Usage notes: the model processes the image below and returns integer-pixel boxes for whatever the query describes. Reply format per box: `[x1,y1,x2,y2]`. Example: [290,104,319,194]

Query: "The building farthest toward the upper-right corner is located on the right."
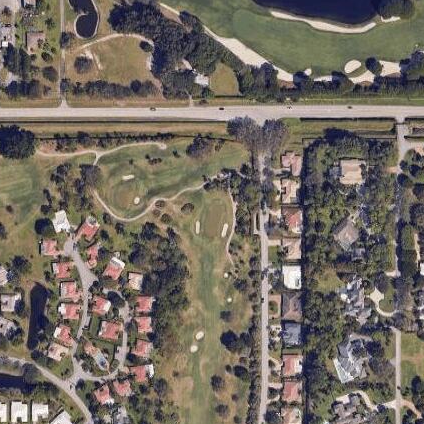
[339,159,365,187]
